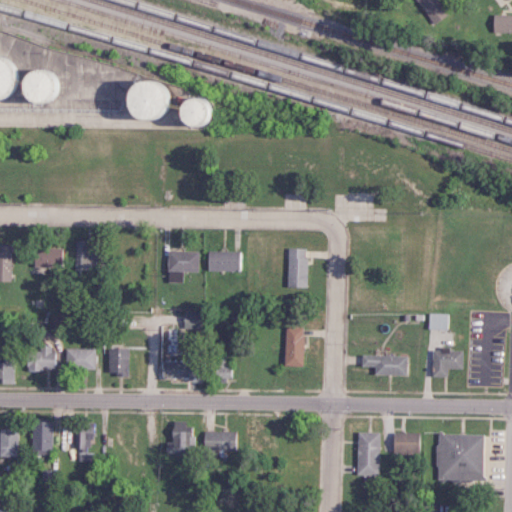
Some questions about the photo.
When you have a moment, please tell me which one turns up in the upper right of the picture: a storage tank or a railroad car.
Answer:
railroad car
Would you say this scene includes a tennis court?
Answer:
No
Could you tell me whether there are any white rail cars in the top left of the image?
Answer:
Yes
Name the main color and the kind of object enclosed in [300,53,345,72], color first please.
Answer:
white rail car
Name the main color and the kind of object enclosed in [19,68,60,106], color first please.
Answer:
white storage tank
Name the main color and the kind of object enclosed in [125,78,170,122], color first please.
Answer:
white storage tank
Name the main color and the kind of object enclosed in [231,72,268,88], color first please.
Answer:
white rail car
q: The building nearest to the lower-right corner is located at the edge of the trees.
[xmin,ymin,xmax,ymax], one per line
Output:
[437,434,484,482]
